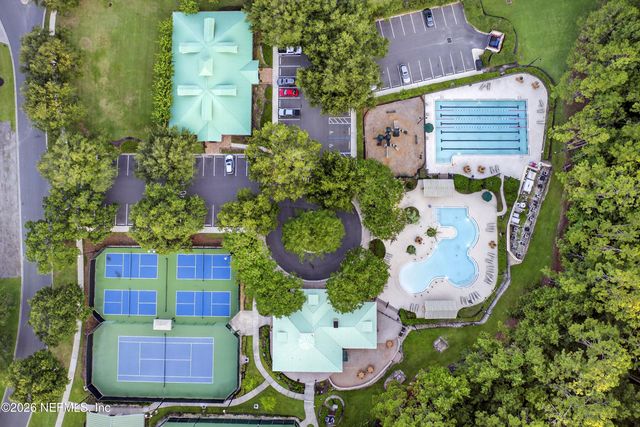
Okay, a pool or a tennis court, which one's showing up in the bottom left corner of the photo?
tennis court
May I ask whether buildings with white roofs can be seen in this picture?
Yes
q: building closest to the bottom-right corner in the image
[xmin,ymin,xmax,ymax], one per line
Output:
[423,299,458,319]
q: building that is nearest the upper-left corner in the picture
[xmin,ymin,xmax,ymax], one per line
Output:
[169,12,259,141]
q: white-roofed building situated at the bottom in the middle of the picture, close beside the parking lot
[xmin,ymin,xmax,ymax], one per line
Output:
[272,289,377,372]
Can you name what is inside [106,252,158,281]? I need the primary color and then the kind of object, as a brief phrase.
blue sports court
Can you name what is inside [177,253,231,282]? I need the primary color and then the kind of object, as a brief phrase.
blue sports court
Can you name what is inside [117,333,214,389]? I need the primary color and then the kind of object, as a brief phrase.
blue tennis court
